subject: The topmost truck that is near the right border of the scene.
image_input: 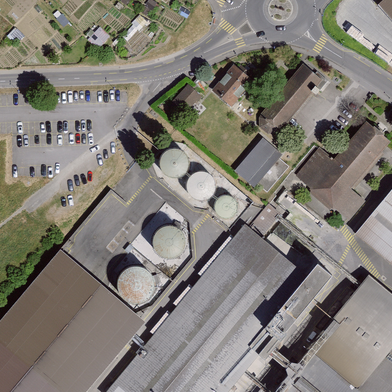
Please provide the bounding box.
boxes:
[342,21,376,52]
